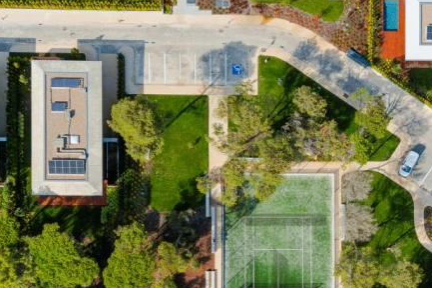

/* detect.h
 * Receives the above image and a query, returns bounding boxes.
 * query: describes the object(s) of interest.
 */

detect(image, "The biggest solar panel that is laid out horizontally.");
[47,160,86,176]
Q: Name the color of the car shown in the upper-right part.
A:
blue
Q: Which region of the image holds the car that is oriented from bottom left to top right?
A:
right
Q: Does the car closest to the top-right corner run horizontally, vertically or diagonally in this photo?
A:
diagonally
